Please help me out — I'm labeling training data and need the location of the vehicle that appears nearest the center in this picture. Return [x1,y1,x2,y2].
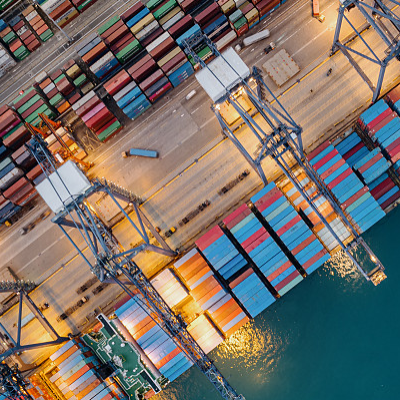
[180,199,211,223]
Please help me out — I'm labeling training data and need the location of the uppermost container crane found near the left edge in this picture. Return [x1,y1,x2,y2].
[18,105,92,173]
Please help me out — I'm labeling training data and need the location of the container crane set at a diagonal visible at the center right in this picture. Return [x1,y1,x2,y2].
[192,36,395,288]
